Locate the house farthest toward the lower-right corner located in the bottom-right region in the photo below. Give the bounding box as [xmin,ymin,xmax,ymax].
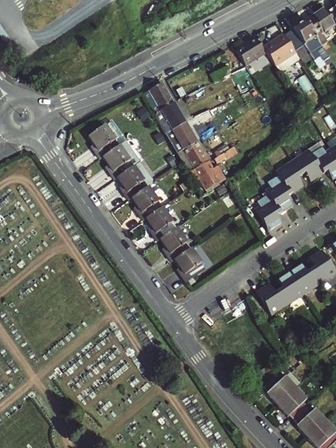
[298,405,336,448]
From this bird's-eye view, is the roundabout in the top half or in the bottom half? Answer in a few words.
top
